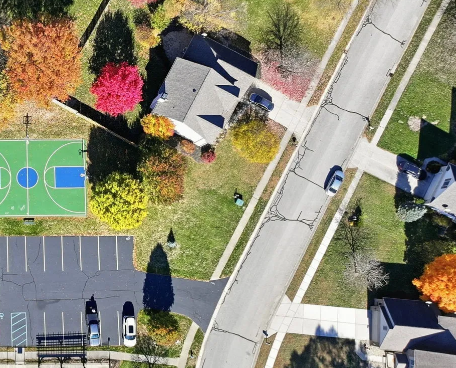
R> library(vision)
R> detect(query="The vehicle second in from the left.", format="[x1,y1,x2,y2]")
[122,317,137,346]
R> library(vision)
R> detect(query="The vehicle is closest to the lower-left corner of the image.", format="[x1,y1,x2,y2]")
[86,311,101,346]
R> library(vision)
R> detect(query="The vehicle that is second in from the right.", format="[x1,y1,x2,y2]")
[323,168,344,197]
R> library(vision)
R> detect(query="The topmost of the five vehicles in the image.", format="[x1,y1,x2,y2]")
[247,92,276,113]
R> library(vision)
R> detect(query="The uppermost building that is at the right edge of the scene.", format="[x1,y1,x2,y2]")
[413,161,456,226]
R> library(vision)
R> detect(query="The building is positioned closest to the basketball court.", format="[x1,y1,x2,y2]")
[150,39,260,146]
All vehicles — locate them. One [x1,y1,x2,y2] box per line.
[122,317,137,346]
[323,168,344,197]
[395,160,427,182]
[247,92,276,113]
[86,311,101,346]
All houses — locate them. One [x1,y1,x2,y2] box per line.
[150,39,260,146]
[370,297,456,368]
[413,161,456,226]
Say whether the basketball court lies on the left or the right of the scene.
left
